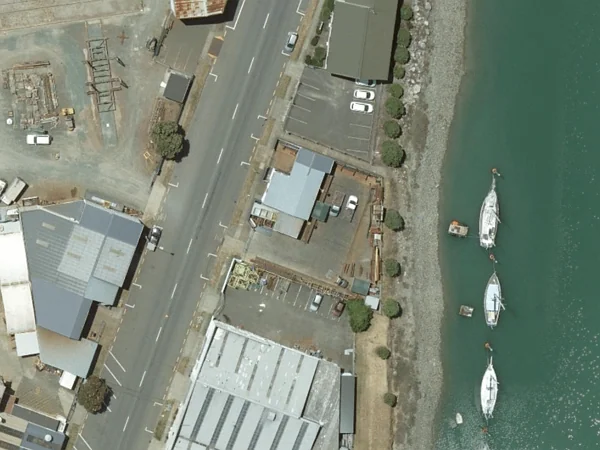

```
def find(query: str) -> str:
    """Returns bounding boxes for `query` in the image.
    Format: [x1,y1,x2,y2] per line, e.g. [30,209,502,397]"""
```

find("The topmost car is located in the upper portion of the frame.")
[283,33,297,54]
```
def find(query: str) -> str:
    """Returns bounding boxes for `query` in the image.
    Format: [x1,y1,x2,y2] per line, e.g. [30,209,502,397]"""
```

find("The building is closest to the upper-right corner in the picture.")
[330,0,398,80]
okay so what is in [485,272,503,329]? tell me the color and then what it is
white boat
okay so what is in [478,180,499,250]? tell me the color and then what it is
white boat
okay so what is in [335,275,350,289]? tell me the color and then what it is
gray vehicle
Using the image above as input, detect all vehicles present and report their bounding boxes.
[26,134,51,145]
[331,298,346,320]
[356,79,376,88]
[309,291,324,314]
[0,174,30,206]
[145,224,162,251]
[343,193,359,220]
[353,90,374,100]
[329,187,349,214]
[350,102,373,112]
[335,275,350,289]
[283,33,297,54]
